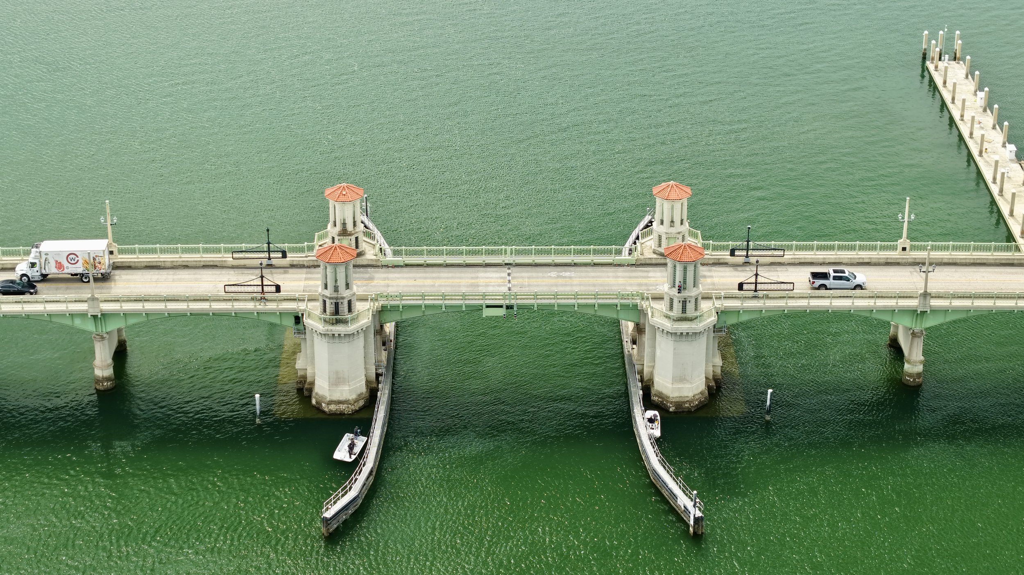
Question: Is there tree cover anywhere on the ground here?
No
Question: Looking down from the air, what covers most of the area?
water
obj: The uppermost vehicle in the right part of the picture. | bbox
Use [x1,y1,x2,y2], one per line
[809,269,871,292]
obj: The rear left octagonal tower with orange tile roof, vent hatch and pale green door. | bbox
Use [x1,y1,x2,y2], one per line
[325,182,367,255]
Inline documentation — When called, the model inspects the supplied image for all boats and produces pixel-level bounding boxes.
[332,429,367,467]
[645,409,665,442]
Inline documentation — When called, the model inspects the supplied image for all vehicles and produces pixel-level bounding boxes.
[16,240,117,283]
[0,280,38,297]
[809,269,871,292]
